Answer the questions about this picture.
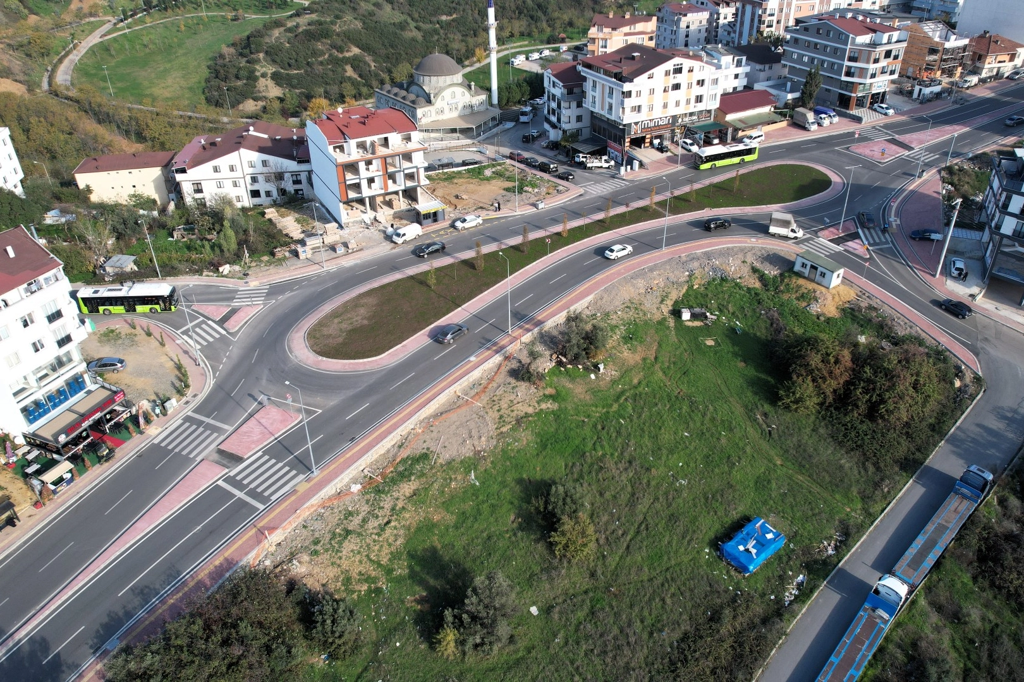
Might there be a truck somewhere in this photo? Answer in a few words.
Yes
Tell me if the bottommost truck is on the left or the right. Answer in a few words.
right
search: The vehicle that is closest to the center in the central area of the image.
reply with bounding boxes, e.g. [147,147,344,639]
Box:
[430,323,470,346]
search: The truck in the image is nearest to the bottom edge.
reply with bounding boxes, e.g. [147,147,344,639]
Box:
[818,570,929,682]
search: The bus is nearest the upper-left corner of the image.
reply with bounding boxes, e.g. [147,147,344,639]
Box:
[71,282,179,316]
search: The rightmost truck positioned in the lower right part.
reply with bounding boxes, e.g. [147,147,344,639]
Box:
[904,469,997,577]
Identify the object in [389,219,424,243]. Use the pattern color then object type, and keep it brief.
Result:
white vehicle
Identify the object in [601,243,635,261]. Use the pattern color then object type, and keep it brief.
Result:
white car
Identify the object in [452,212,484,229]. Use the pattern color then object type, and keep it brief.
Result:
white car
